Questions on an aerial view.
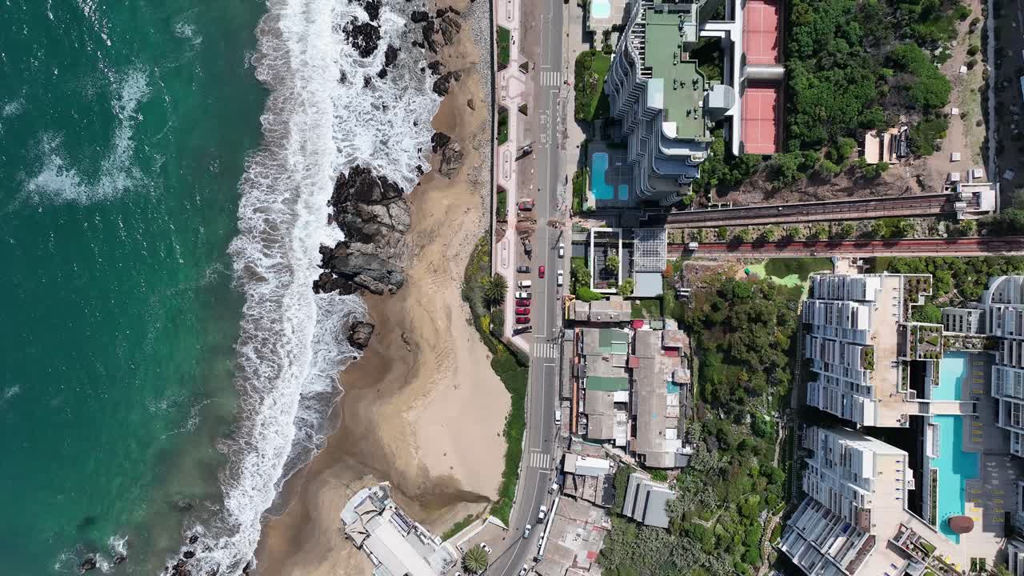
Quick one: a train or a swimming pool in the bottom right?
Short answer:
swimming pool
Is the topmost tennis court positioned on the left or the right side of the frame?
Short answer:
right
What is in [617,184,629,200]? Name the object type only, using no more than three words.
swimming pool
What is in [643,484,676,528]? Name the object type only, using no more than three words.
building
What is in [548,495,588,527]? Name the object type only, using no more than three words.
house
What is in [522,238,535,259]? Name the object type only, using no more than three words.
vehicle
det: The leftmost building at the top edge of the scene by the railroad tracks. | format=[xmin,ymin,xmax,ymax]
[601,0,713,207]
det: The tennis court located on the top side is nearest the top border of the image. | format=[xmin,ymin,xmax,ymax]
[740,0,774,81]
